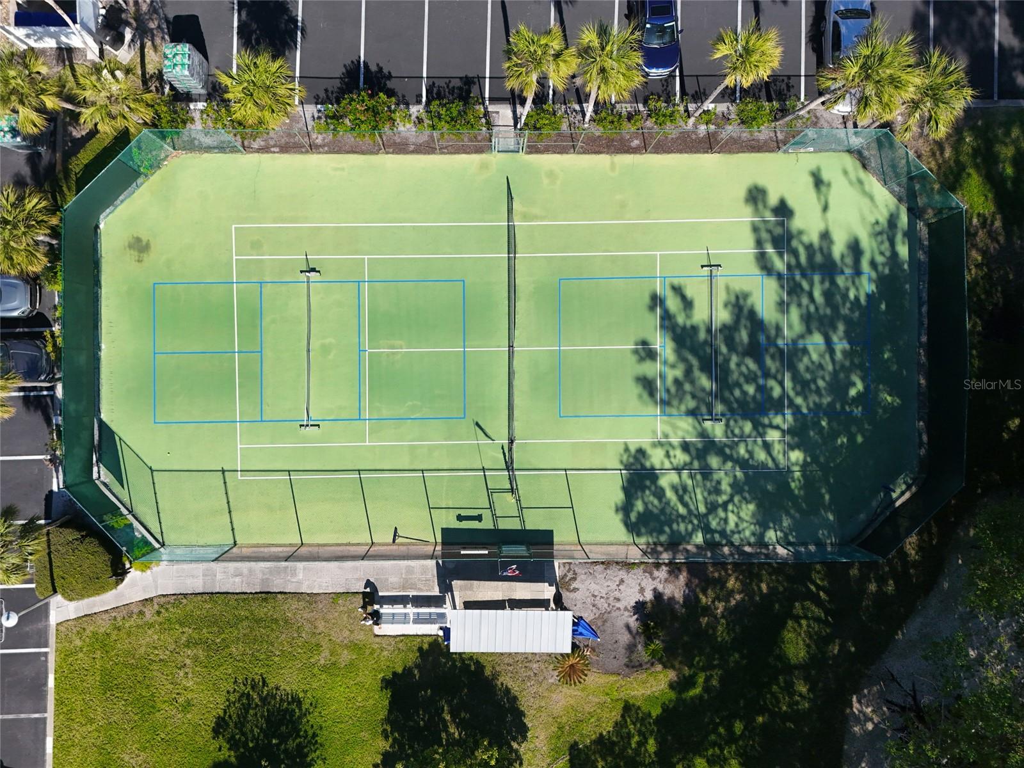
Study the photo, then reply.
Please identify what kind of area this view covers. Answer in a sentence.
The area seen from above is a sports ground.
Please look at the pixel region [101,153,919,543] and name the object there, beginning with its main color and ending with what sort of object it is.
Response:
green tennis court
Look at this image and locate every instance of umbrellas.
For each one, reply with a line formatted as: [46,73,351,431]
[572,616,602,640]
